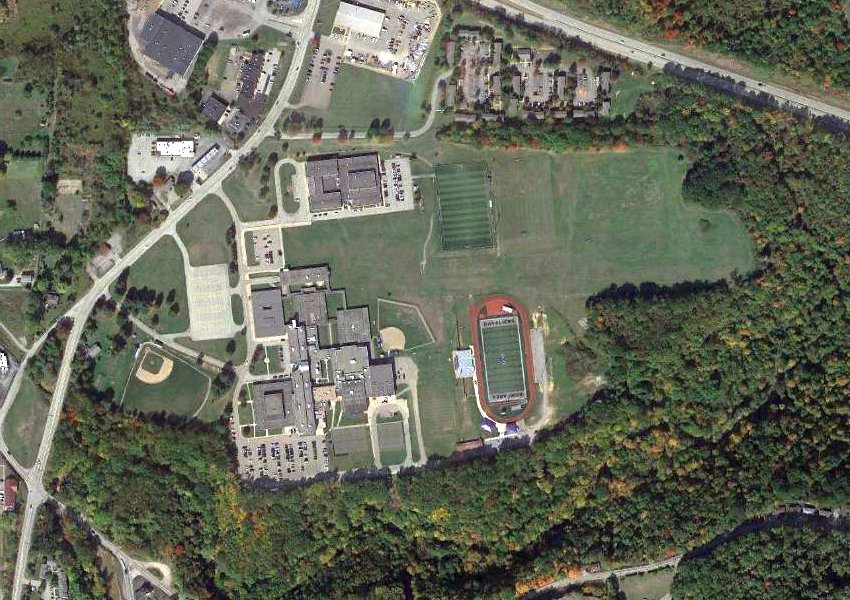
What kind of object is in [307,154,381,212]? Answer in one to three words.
building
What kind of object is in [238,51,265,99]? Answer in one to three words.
building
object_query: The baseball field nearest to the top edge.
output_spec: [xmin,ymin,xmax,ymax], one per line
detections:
[378,299,435,352]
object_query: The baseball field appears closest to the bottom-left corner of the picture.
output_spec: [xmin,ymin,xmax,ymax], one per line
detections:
[120,341,212,417]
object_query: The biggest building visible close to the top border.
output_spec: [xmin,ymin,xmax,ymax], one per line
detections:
[140,12,204,77]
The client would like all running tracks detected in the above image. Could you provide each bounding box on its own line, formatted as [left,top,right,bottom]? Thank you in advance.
[471,295,534,422]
